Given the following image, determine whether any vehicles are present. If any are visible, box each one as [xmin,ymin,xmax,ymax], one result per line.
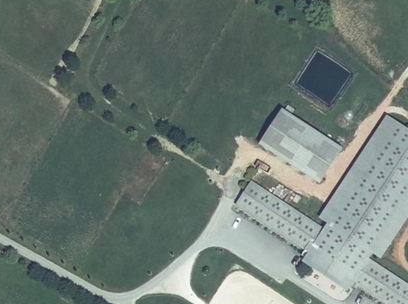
[292,254,300,265]
[232,218,242,230]
[355,294,362,304]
